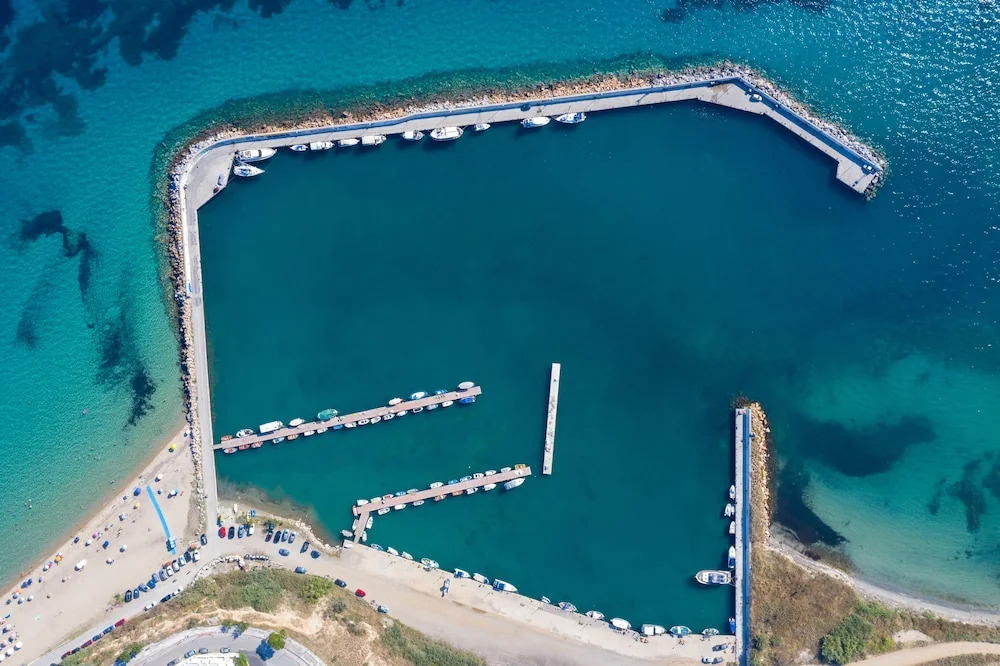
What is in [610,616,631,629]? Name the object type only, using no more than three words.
boat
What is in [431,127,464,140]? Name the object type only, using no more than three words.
boat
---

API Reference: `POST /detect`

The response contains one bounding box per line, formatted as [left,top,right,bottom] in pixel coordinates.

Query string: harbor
[180,77,882,666]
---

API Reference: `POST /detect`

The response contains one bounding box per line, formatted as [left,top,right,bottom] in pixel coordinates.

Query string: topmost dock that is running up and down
[543,363,561,475]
